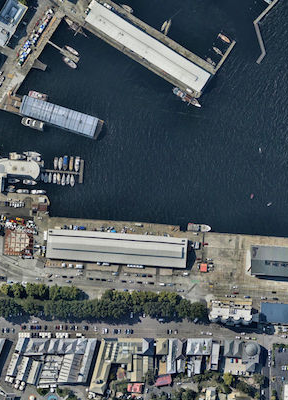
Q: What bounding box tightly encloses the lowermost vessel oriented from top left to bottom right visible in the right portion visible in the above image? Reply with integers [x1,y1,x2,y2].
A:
[173,86,200,106]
